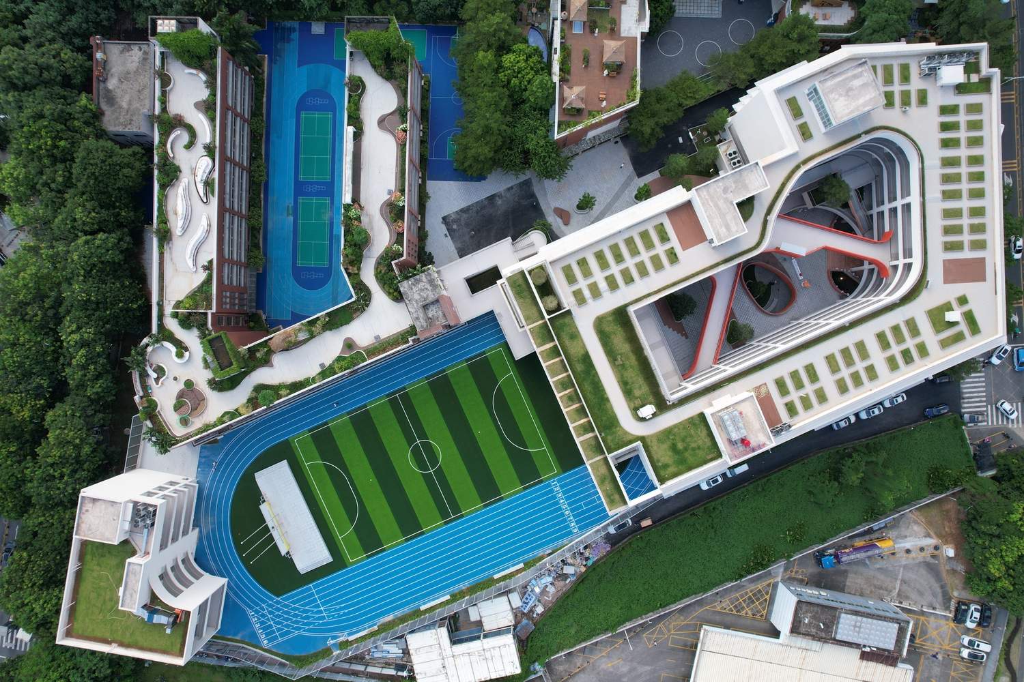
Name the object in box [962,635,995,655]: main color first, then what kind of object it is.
white vehicle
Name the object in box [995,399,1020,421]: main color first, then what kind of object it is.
white car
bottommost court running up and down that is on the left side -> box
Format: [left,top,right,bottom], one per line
[297,197,330,267]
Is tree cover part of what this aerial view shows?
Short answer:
Yes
